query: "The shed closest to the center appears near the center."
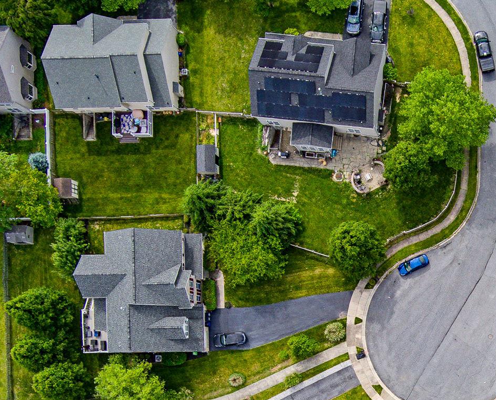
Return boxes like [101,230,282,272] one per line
[196,143,220,177]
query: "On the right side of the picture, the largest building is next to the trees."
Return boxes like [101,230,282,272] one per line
[248,30,386,152]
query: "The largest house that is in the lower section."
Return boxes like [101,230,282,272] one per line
[73,227,209,353]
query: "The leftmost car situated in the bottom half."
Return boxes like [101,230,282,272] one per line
[212,332,248,349]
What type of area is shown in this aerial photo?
residential area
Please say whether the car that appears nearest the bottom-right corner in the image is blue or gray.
blue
